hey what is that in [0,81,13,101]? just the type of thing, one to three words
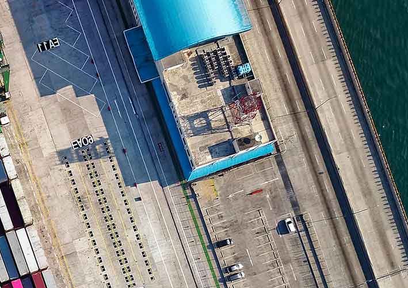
vehicle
